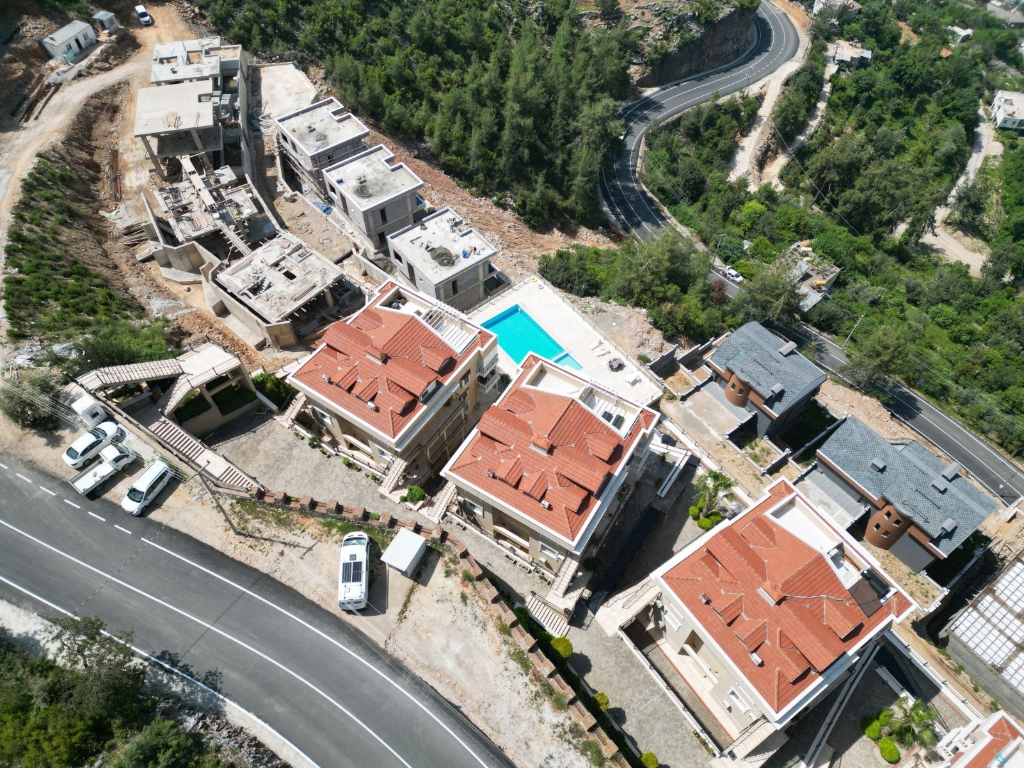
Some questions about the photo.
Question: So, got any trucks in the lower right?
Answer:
No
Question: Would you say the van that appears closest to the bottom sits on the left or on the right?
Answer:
left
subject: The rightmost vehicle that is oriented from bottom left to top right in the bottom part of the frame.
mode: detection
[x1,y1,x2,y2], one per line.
[119,456,180,519]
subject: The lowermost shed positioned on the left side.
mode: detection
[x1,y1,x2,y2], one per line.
[381,528,427,583]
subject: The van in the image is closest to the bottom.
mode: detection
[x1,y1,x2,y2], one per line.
[335,533,372,618]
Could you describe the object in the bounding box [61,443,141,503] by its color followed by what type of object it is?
white truck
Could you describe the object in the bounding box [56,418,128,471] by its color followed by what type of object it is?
white car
